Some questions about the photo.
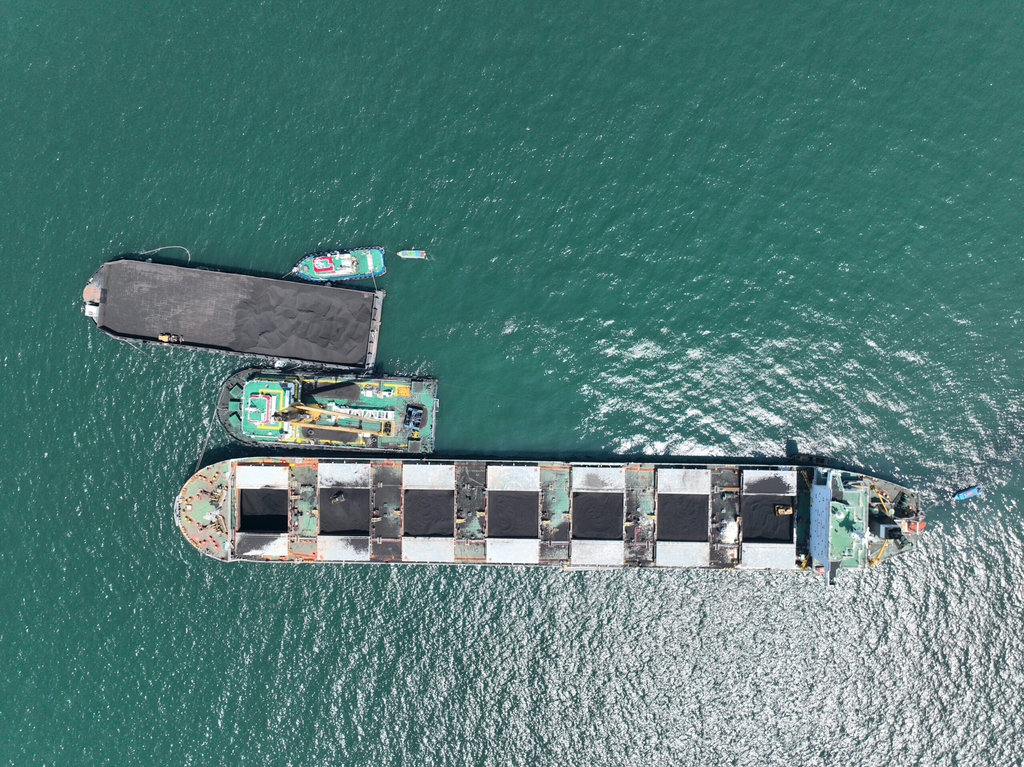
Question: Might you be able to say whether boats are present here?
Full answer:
Yes, this view includes a boat.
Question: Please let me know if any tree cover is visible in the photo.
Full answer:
No, tree cover can't be seen anywhere here.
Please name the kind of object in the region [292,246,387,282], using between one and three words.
boat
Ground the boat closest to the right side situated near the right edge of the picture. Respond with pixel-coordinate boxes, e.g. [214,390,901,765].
[955,486,986,499]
